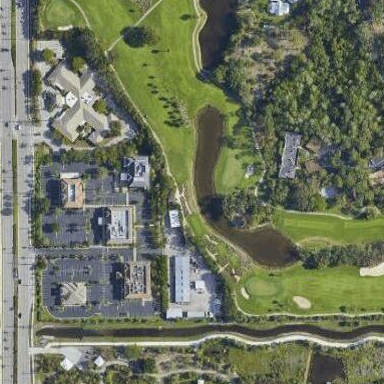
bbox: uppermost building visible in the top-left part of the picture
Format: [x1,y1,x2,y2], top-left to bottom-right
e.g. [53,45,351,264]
[47,61,110,135]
